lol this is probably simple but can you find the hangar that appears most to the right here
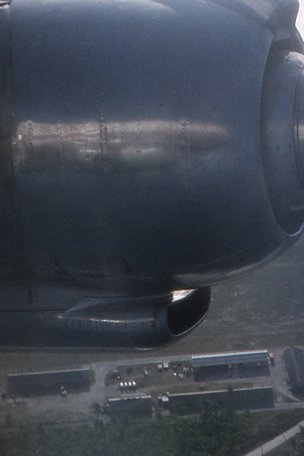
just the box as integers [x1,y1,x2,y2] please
[280,350,304,395]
